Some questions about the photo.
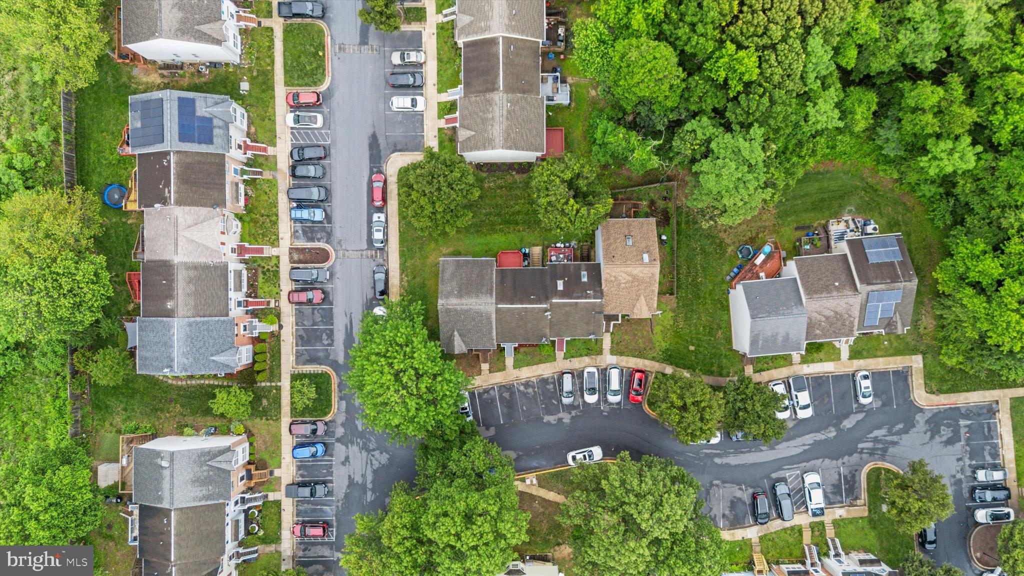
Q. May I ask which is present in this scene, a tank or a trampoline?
trampoline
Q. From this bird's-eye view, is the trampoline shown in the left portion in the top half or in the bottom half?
top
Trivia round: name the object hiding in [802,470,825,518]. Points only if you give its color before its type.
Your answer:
white truck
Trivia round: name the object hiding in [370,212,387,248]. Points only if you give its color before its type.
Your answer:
white car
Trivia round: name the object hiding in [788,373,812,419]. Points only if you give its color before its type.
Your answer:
white truck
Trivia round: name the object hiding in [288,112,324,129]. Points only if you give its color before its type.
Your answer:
white car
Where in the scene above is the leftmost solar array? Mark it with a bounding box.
[130,99,162,146]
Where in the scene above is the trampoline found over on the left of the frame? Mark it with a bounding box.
[96,183,127,207]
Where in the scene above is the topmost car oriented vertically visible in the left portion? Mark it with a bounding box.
[370,173,387,208]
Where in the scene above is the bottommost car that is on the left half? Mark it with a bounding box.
[293,521,330,539]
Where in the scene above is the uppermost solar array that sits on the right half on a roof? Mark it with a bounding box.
[863,236,903,262]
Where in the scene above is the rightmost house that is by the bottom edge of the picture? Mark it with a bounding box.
[821,538,900,576]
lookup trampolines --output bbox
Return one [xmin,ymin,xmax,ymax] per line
[736,244,758,260]
[96,183,127,207]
